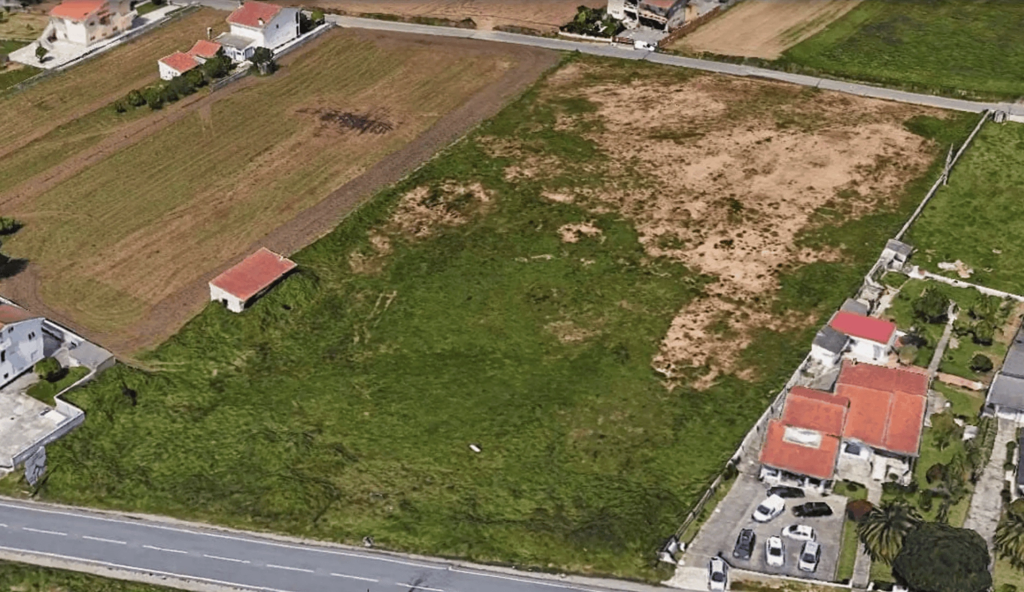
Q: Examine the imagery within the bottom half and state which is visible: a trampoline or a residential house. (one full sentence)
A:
What appears within the bottom half is a residential house.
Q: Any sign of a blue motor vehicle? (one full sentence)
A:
No, the picture doesn't show any blue motor vehicle.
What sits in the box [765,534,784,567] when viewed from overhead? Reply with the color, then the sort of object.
white car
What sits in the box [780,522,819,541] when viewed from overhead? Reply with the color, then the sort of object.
white car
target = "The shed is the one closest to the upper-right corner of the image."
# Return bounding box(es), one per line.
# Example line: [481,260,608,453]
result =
[880,242,914,281]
